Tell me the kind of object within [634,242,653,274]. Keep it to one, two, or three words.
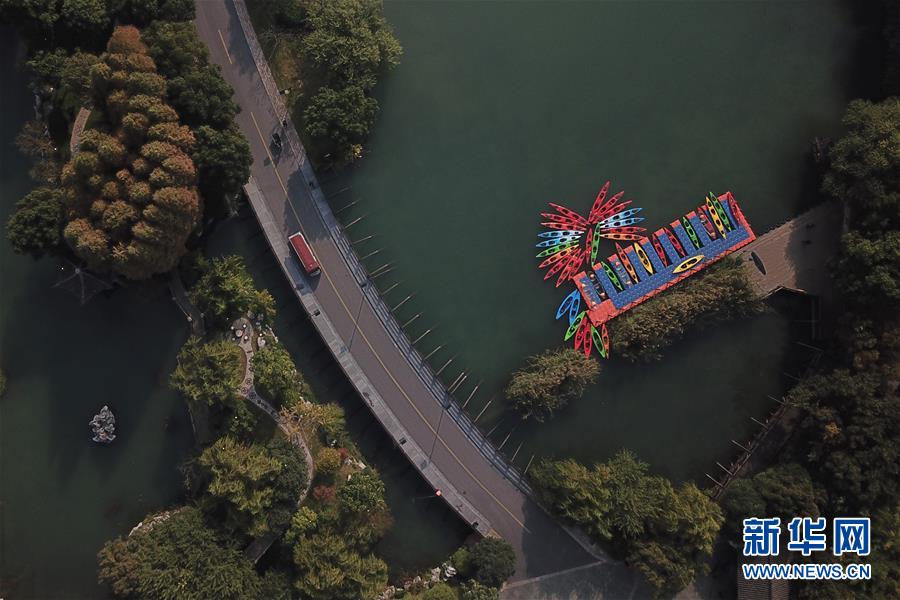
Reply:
boat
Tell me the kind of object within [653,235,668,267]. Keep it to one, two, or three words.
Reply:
boat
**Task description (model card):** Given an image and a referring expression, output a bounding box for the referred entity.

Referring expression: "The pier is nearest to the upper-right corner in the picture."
[741,199,848,300]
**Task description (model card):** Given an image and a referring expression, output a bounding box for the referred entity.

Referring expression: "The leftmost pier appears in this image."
[570,191,757,327]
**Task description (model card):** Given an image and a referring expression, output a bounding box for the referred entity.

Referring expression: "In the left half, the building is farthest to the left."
[51,241,113,306]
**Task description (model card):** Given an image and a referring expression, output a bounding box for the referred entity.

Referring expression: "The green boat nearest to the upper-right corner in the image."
[710,192,731,232]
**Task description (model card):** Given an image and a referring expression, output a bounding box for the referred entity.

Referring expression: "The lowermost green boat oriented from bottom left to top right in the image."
[565,311,586,340]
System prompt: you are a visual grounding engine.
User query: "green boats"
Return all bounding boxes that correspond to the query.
[536,241,579,257]
[592,324,605,358]
[565,311,586,340]
[592,223,601,265]
[601,262,622,291]
[684,217,700,249]
[710,192,731,232]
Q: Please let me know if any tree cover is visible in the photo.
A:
Yes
